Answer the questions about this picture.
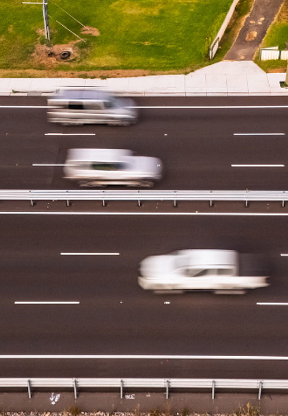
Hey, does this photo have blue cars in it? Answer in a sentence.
No, there's no blue car here.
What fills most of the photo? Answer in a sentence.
For the most part, this view shows paved ground.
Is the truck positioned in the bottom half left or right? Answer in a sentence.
The truck positioned in the bottom half appears in the right half of the scene.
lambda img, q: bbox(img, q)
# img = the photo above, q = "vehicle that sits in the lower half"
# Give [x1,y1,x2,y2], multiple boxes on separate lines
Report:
[144,243,265,292]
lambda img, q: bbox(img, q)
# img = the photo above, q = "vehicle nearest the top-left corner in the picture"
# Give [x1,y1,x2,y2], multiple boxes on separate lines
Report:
[65,142,158,185]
